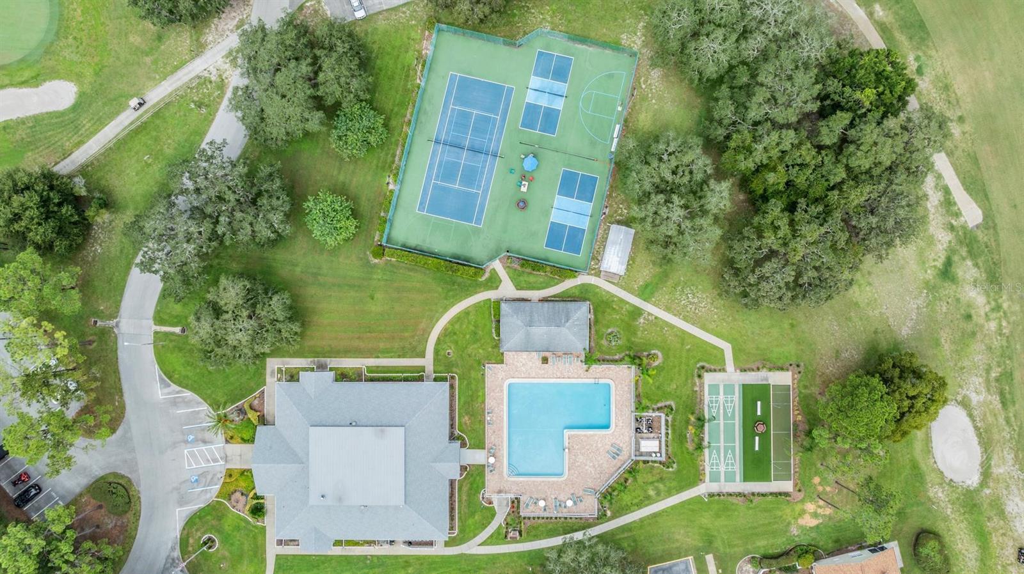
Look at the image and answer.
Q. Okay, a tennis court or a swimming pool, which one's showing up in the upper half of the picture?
tennis court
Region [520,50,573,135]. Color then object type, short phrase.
blue sports court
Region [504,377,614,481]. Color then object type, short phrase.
blue swimming pool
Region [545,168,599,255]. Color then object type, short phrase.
blue sports court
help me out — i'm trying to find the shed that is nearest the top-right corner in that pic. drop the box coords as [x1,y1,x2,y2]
[601,224,634,275]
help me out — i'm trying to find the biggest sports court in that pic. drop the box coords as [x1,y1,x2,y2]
[386,32,635,271]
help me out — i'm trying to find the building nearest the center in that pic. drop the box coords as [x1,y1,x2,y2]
[500,301,590,353]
